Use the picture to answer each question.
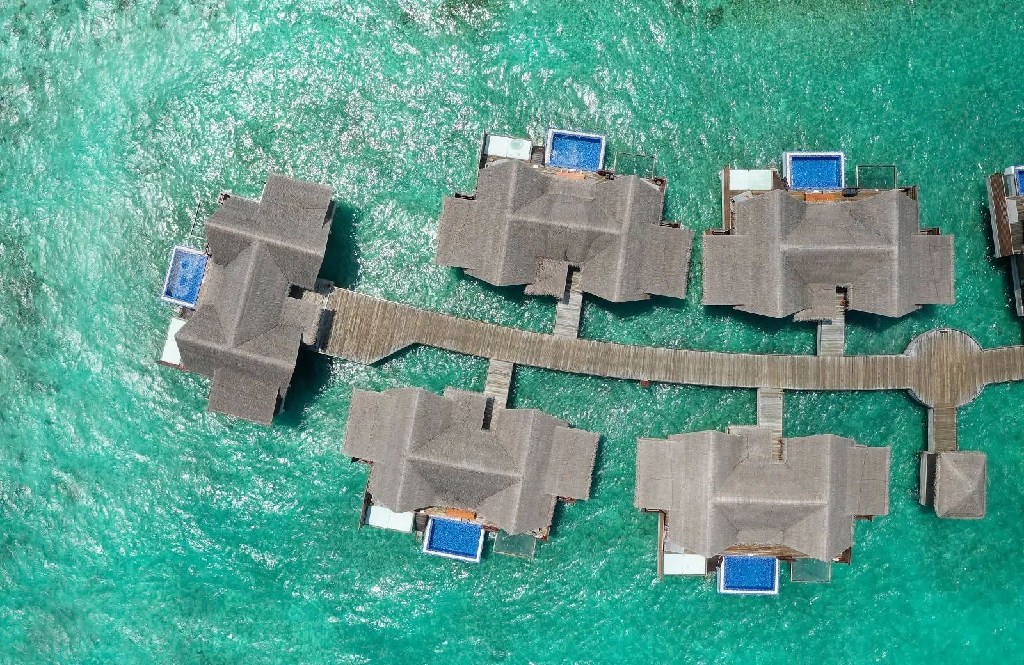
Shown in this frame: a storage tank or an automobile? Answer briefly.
storage tank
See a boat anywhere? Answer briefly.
No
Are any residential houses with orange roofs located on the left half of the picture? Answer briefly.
No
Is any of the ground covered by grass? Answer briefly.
No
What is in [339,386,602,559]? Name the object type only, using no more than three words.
house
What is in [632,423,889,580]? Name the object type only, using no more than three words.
house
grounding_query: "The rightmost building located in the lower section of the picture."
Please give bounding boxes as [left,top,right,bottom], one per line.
[908,451,987,519]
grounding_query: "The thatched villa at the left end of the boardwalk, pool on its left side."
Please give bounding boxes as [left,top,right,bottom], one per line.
[150,168,344,431]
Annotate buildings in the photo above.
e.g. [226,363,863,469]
[986,172,1024,311]
[339,386,602,559]
[632,423,889,580]
[698,163,955,323]
[431,130,692,302]
[150,168,344,431]
[908,451,987,519]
